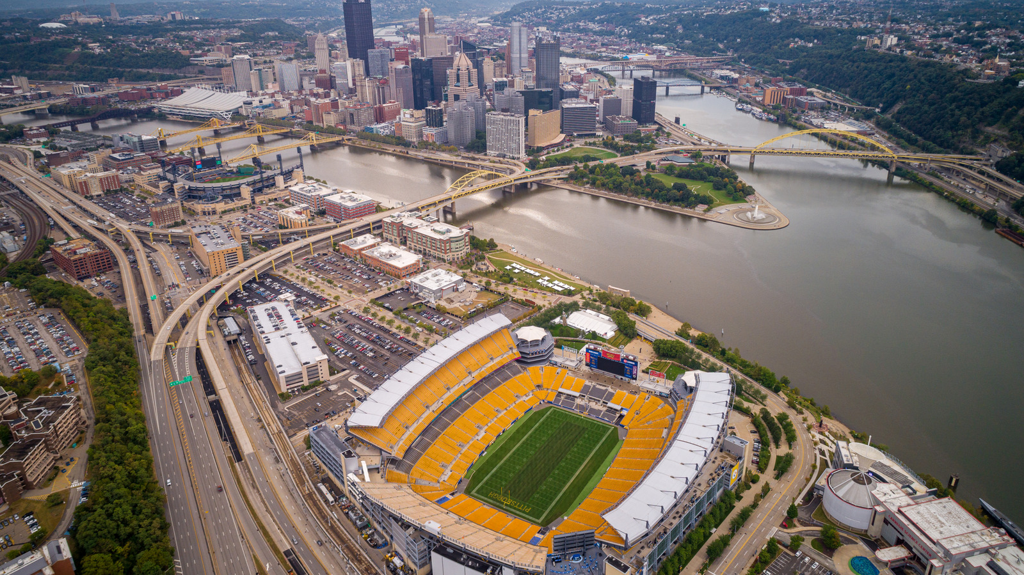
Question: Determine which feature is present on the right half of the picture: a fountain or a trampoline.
fountain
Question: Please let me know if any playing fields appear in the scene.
Yes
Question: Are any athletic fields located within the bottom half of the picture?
Yes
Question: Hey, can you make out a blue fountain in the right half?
No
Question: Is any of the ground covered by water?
Yes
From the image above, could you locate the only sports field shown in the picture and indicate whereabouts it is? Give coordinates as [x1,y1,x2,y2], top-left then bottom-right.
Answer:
[467,406,621,525]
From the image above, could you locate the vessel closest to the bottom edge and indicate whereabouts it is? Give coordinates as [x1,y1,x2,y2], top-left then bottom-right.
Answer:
[981,500,1024,543]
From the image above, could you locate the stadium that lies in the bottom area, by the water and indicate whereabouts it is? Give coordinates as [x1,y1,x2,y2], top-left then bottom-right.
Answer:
[337,306,753,575]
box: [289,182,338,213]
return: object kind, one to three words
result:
building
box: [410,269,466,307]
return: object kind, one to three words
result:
building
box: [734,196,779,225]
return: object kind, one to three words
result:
fountain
